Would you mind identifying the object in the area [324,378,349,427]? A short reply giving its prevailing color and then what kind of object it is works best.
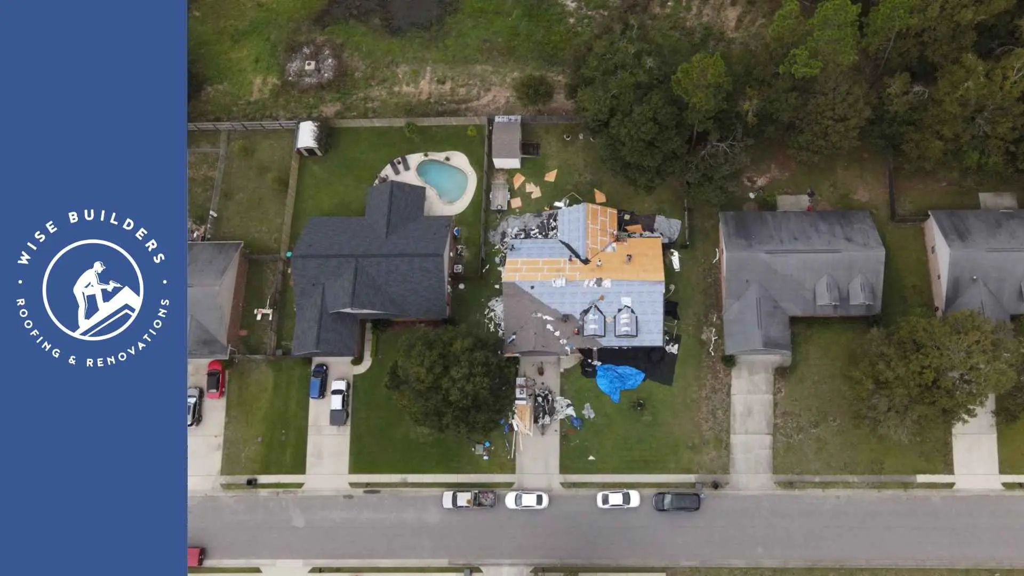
white truck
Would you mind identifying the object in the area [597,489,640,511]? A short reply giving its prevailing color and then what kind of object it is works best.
white car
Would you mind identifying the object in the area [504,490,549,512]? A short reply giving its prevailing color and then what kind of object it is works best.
white car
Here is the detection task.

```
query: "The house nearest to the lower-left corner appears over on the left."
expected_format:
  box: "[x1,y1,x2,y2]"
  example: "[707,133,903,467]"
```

[72,240,247,362]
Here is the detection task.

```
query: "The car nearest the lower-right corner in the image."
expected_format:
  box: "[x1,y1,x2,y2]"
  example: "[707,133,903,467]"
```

[653,491,701,514]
